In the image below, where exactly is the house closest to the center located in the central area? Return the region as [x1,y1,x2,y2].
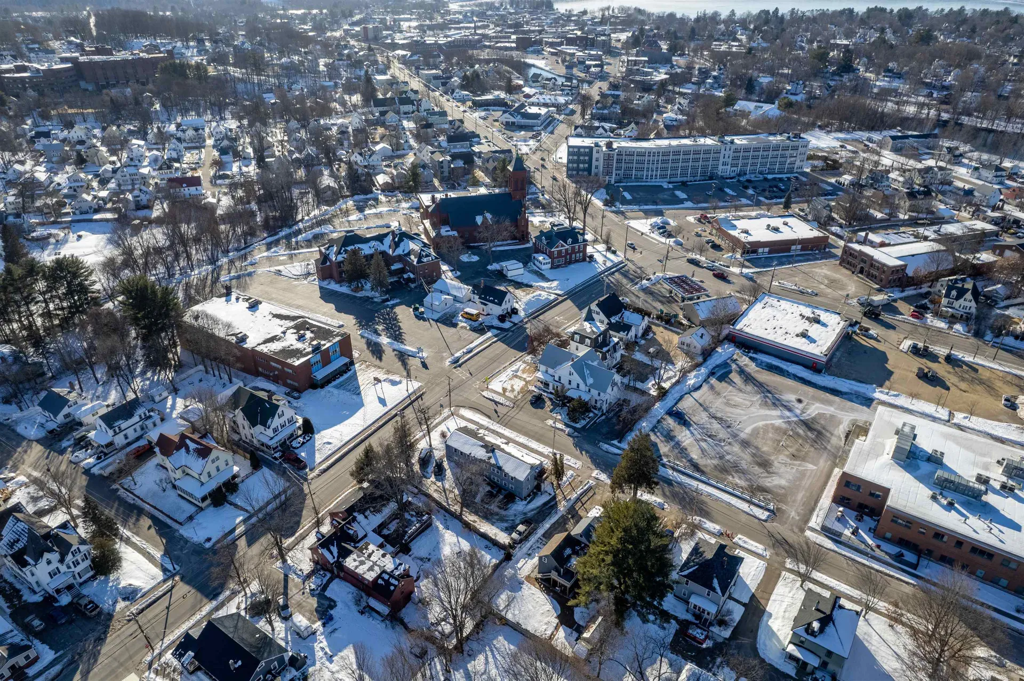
[469,279,516,316]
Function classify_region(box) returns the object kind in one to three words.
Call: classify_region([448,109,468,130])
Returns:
house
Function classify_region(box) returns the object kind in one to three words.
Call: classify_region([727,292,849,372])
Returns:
building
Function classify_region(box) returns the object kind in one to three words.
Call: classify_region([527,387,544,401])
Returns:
car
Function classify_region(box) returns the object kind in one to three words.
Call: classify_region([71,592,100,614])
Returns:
truck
